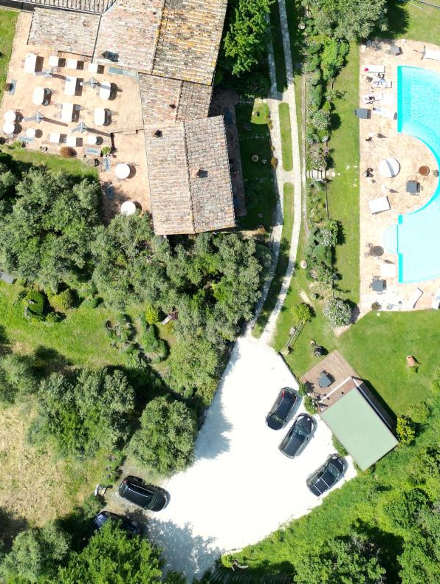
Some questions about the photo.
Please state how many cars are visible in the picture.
five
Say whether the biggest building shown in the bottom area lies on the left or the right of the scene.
right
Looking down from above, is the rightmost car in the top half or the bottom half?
bottom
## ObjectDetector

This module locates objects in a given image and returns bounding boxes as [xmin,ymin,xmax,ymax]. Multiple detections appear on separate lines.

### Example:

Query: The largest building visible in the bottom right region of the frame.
[320,380,400,469]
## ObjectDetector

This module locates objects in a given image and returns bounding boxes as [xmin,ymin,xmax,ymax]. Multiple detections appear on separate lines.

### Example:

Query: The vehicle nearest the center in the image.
[264,383,302,432]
